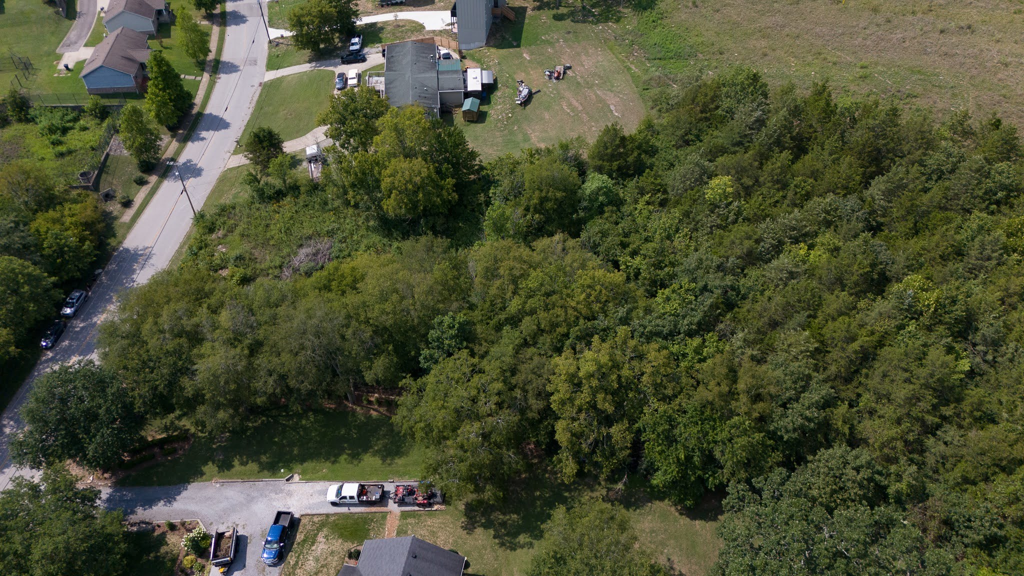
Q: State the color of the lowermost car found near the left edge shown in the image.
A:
black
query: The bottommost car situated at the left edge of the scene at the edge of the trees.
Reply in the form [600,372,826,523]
[33,318,69,351]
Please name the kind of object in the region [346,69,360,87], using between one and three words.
car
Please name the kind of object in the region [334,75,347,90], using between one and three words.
vehicle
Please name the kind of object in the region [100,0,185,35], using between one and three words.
building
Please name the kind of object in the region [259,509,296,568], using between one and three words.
truck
